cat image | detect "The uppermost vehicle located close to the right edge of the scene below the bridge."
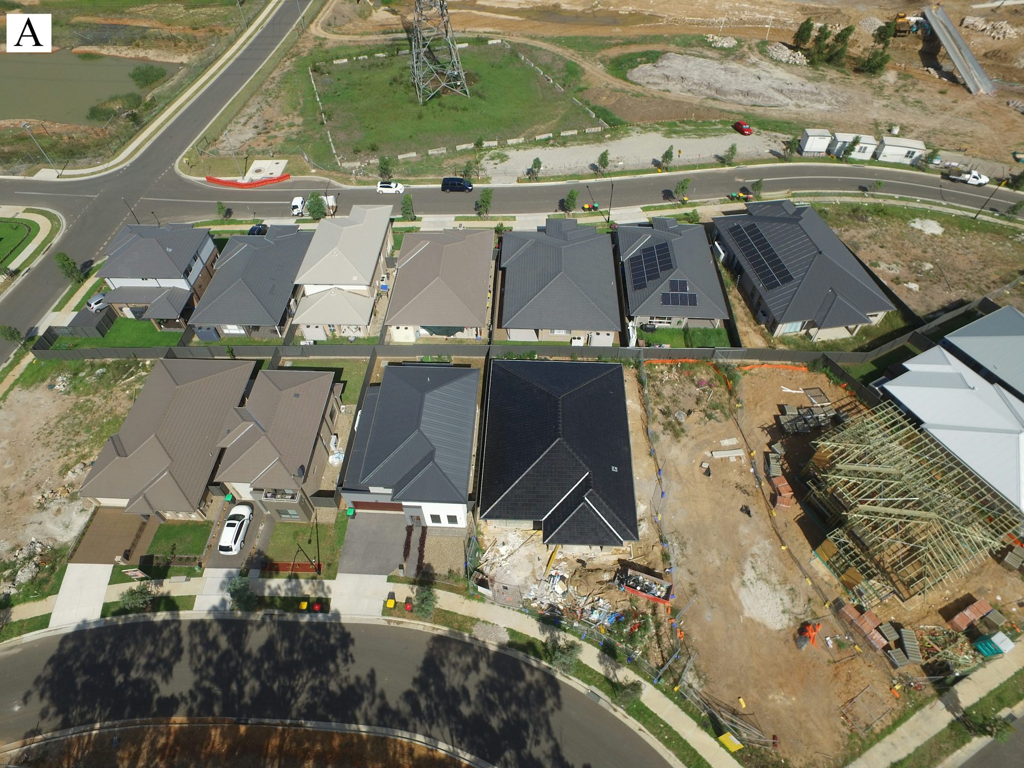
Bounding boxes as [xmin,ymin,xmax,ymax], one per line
[954,171,991,189]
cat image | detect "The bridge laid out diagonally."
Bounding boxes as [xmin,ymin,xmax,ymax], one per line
[924,0,1002,95]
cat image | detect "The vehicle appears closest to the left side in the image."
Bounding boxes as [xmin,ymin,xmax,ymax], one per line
[79,293,111,314]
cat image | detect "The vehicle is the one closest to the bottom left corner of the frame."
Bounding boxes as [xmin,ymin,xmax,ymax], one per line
[214,513,250,559]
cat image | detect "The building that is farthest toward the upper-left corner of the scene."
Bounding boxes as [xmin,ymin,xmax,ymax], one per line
[94,223,219,320]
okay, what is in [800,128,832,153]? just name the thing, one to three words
building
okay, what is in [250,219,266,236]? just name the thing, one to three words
car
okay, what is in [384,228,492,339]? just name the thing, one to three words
house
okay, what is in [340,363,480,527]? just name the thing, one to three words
house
